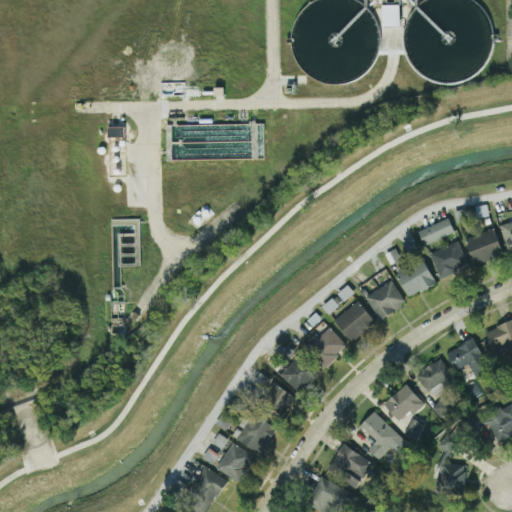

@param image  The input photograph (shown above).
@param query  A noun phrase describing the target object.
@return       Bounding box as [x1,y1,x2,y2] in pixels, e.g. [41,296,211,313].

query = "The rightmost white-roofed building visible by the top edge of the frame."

[382,3,400,26]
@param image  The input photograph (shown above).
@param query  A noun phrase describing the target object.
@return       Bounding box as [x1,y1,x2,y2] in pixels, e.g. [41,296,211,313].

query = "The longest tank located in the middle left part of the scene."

[111,218,141,288]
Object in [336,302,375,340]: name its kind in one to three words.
house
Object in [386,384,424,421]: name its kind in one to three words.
house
